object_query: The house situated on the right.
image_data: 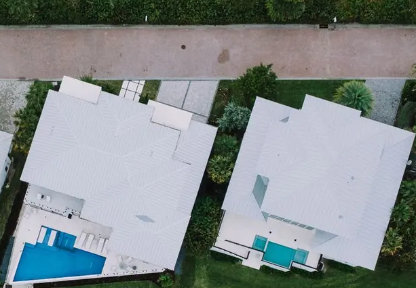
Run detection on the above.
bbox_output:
[223,94,413,270]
